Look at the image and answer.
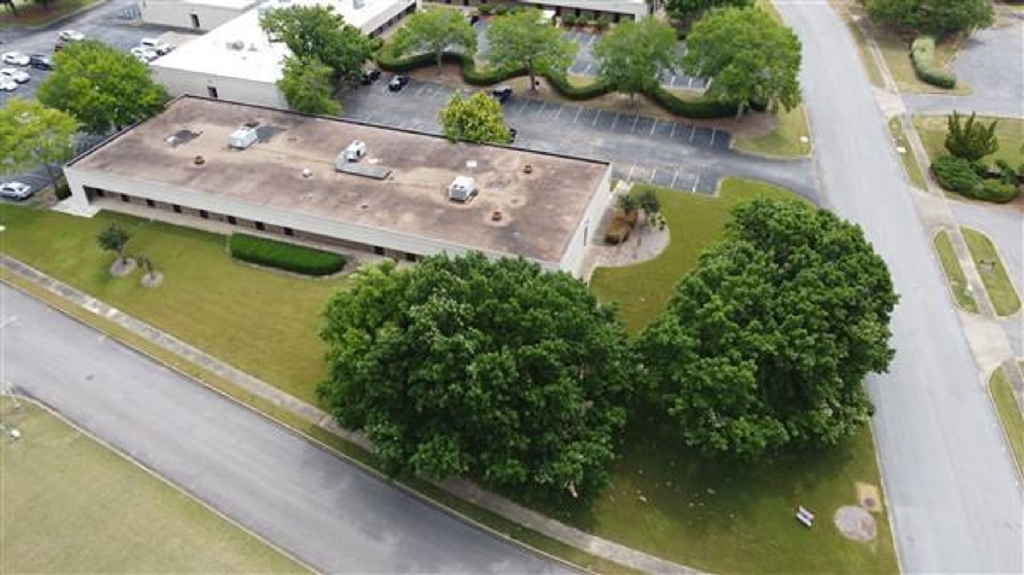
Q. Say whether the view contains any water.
No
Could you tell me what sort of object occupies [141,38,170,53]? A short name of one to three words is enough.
car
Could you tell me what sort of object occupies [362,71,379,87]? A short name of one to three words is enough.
car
